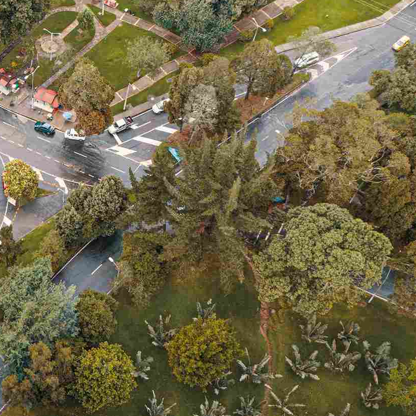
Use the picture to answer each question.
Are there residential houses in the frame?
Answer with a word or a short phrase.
No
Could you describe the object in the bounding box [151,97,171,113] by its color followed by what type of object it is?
white car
